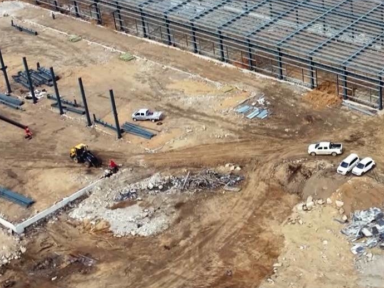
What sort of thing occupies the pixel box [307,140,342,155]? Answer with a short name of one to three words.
vehicle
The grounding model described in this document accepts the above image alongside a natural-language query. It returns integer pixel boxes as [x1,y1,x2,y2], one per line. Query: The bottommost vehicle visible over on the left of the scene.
[69,143,110,172]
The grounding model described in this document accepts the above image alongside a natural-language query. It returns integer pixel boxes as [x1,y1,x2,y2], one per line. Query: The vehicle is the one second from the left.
[130,107,164,122]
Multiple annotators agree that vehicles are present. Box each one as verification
[130,107,164,122]
[69,143,110,172]
[307,140,342,155]
[353,155,377,176]
[339,153,363,175]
